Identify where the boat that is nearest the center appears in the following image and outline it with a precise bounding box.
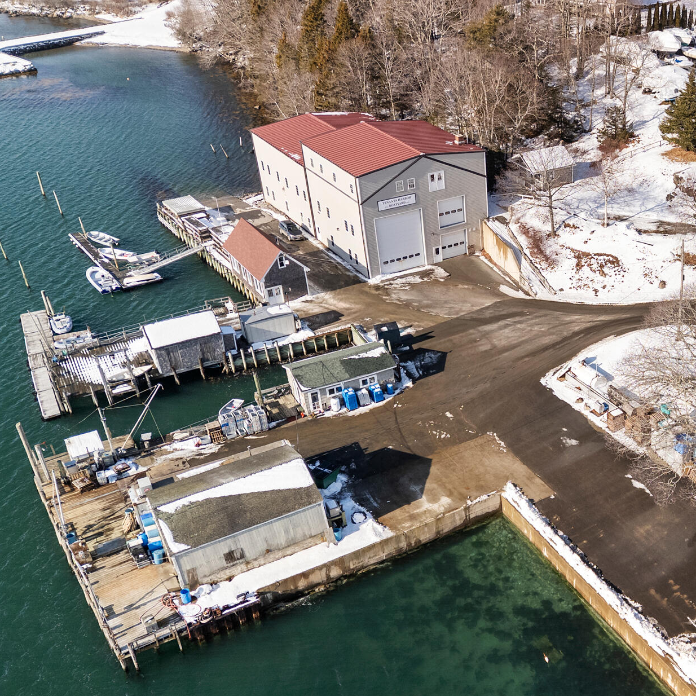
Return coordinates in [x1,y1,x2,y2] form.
[218,396,246,413]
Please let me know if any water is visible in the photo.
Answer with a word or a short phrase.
Yes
